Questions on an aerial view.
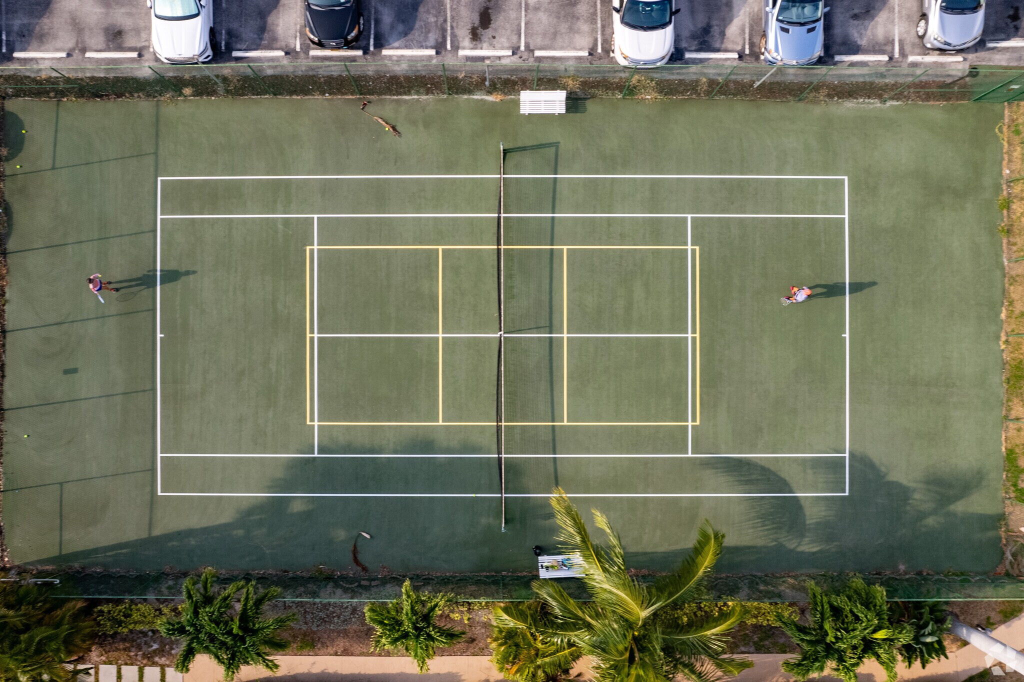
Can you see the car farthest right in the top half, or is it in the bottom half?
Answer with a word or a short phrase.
top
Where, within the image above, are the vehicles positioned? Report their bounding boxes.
[140,0,215,65]
[763,0,834,69]
[922,0,998,54]
[610,0,683,70]
[305,0,361,51]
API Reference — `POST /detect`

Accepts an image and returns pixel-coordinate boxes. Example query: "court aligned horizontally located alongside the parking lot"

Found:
[2,96,1006,573]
